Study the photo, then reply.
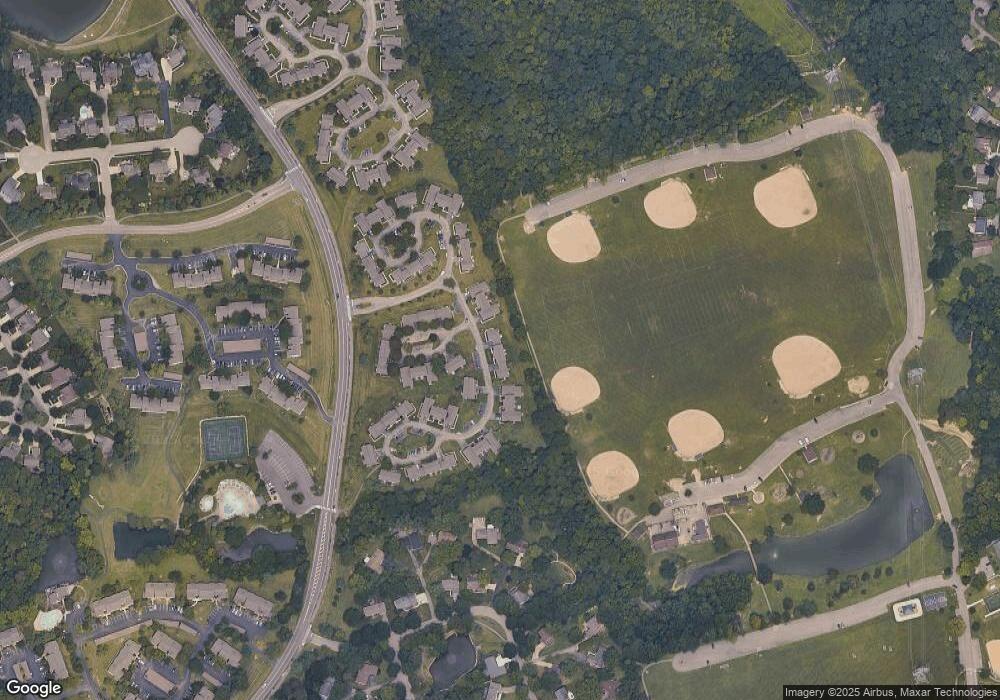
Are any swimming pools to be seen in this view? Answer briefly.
Yes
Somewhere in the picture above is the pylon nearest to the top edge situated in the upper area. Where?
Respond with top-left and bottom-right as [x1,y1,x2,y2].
[824,68,845,87]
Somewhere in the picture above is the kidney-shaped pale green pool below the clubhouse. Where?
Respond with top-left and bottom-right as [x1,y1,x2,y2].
[34,610,62,632]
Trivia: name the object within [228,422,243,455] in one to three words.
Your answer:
tennis court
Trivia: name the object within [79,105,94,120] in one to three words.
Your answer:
swimming pool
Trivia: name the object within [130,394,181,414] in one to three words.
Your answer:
building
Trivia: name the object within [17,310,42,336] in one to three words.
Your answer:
house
